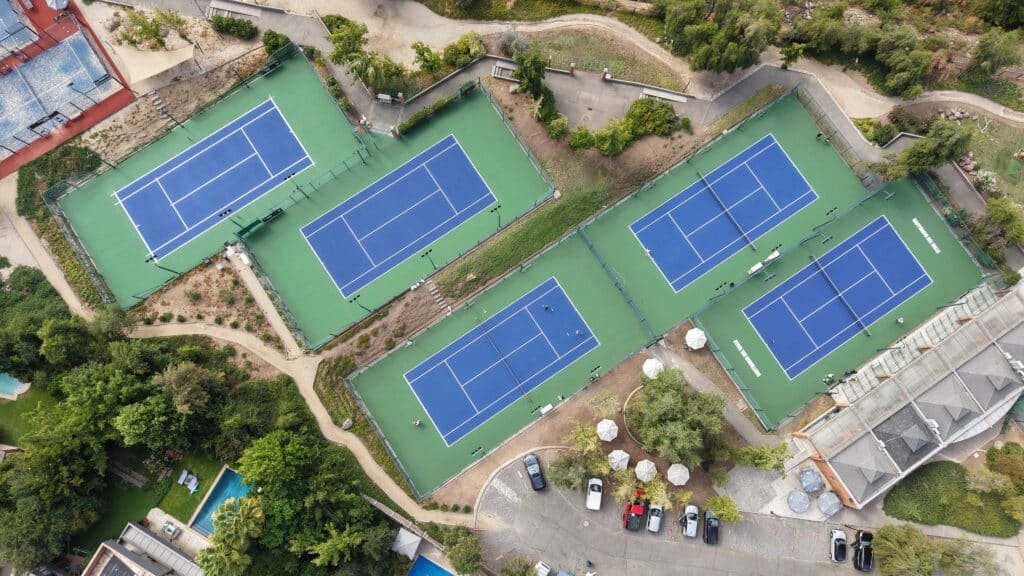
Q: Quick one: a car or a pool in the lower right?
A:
car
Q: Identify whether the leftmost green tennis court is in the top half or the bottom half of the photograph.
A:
top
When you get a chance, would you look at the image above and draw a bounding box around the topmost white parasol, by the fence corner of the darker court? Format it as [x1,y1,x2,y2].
[685,328,707,350]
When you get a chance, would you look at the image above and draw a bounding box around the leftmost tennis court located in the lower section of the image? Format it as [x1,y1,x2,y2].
[349,231,657,500]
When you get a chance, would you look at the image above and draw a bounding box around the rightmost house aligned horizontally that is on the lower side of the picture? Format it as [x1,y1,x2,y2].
[81,541,168,576]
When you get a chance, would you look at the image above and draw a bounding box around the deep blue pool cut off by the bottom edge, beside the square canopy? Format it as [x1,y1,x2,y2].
[402,552,459,576]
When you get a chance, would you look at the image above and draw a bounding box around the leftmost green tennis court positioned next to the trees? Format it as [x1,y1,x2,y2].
[55,49,367,310]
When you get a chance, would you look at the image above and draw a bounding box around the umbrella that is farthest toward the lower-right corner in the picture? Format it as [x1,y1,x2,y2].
[816,494,839,516]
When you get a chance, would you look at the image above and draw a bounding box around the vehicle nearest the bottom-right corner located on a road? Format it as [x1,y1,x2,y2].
[849,530,874,571]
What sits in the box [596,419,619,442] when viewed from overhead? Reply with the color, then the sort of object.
white umbrella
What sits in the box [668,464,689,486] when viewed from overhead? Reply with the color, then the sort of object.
white umbrella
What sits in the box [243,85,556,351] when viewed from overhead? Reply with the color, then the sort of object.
green tennis court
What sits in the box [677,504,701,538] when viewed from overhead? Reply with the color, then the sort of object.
white car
